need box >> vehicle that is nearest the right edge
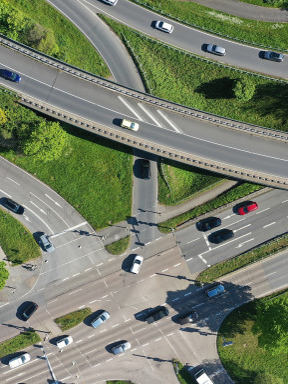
[263,50,286,64]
